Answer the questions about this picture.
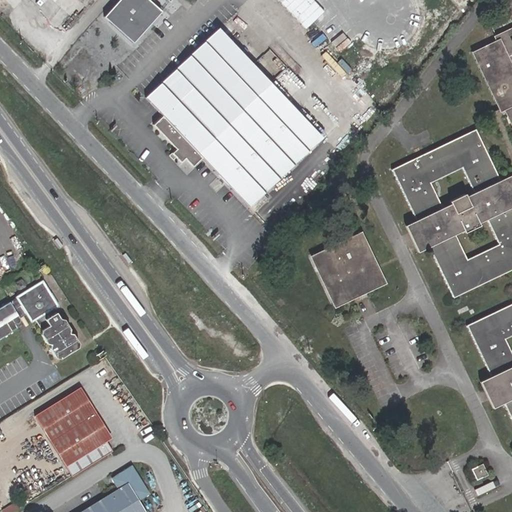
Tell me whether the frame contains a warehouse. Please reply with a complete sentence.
Yes, a warehouse can be made out from above.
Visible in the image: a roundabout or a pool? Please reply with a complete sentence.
Visible in the photo is a roundabout.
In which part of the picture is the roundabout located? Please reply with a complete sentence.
The roundabout sits in the bottom section of the image.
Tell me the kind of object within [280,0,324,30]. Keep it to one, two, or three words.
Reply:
shed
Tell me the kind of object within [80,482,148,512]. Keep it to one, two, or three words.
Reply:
building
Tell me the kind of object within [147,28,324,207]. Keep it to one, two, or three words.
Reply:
warehouse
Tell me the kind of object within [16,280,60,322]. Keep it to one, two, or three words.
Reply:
building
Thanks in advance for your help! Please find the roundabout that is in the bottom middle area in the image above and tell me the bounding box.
[164,370,254,462]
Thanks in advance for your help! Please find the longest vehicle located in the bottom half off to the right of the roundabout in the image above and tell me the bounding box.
[330,392,360,427]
